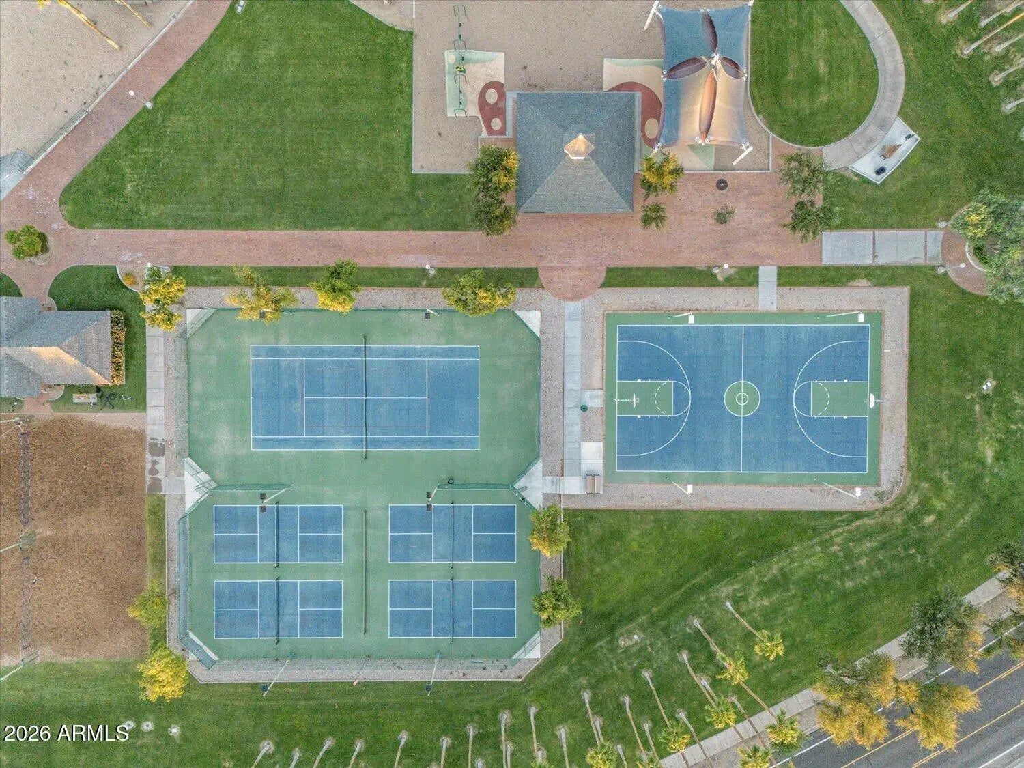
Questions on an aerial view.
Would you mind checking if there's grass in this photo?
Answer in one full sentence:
Yes, grass shows up in the scene.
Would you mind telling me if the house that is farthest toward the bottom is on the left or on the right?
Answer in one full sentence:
The house that is farthest toward the bottom is on the left side of the image.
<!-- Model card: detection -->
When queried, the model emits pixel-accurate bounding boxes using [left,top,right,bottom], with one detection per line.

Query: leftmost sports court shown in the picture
[0,416,148,666]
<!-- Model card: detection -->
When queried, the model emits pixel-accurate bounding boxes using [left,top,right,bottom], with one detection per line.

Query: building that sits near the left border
[0,295,121,398]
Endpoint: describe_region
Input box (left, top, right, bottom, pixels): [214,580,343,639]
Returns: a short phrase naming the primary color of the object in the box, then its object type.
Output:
blue sports court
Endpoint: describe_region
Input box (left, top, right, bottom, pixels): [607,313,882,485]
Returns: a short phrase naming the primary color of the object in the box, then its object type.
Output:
blue basketball court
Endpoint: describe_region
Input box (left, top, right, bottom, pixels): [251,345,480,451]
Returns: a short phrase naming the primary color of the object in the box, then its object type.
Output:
blue tennis court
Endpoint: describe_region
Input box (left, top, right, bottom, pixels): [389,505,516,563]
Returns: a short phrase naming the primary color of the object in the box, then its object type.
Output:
blue sports court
